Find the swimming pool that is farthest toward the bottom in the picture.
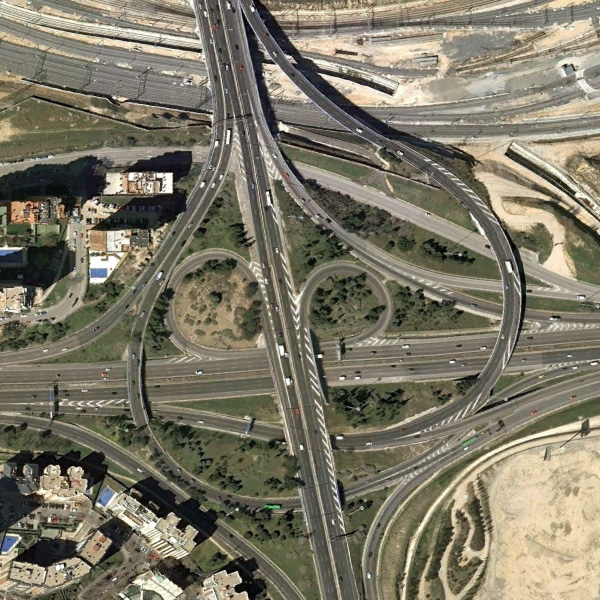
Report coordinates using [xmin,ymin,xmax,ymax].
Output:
[0,533,23,555]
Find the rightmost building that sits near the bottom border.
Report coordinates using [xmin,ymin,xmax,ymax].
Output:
[198,570,250,600]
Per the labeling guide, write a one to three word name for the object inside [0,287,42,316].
building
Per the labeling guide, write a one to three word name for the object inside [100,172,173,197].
building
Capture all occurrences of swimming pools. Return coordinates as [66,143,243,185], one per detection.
[90,254,128,283]
[0,533,23,555]
[95,484,119,509]
[0,246,27,266]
